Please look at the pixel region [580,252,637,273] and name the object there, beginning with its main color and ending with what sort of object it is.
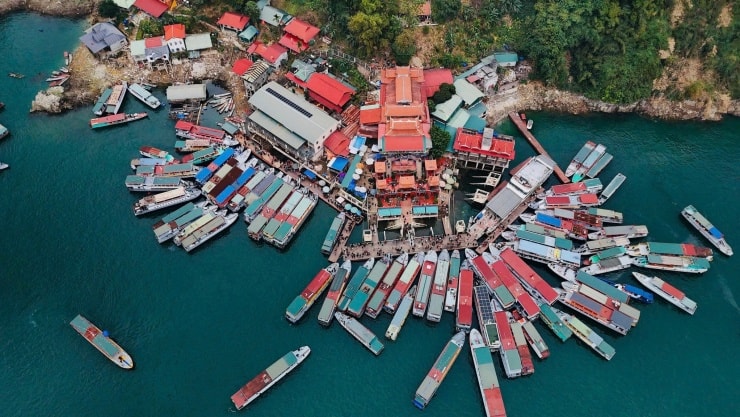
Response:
white boat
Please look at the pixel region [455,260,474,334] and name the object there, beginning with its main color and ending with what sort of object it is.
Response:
red boat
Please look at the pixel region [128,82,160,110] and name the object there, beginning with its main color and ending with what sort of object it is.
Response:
white boat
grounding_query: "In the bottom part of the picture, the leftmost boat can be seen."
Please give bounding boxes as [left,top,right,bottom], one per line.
[69,314,132,369]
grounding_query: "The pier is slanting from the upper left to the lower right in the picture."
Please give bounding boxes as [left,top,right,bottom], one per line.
[508,113,575,183]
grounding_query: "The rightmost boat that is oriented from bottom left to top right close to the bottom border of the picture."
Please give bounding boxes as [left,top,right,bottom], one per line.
[408,329,462,411]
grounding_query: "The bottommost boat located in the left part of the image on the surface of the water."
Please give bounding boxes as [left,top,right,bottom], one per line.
[229,348,310,413]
